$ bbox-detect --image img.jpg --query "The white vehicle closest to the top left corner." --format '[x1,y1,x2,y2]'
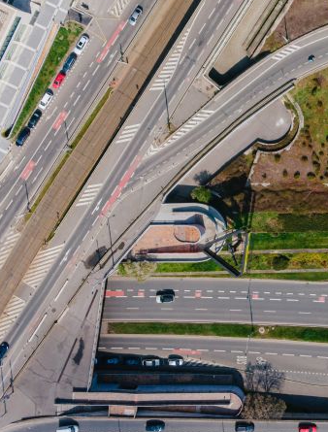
[74,33,89,54]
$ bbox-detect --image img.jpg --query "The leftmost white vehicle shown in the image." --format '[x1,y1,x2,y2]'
[38,89,54,109]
